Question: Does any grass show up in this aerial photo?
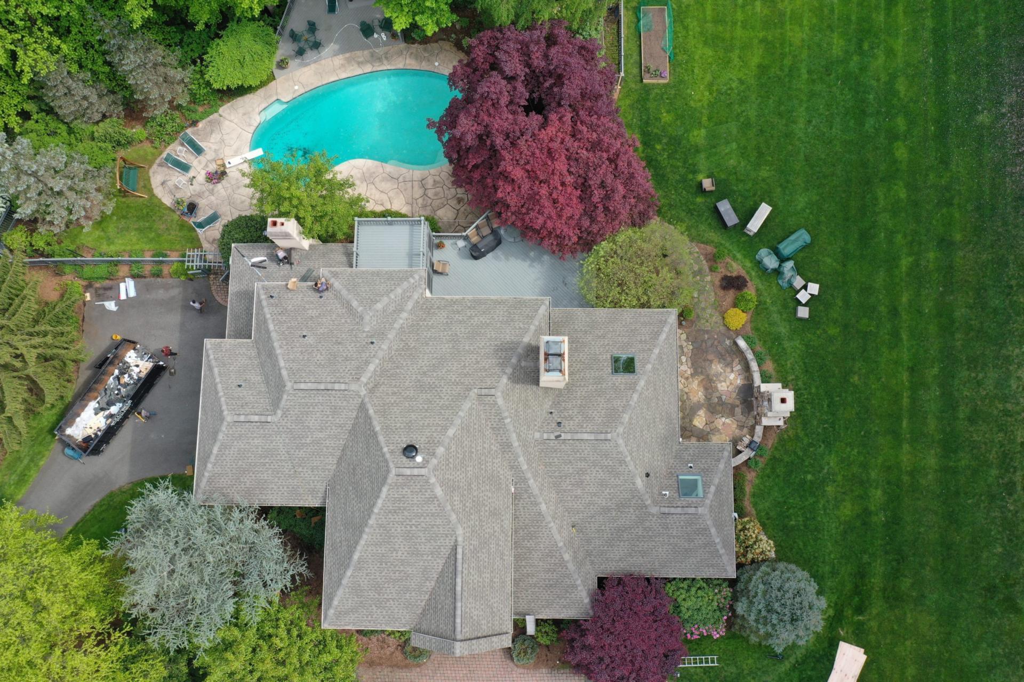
Yes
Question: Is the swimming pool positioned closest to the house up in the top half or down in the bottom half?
top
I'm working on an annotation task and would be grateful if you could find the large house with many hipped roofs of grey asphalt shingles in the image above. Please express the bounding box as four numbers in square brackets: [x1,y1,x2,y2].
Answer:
[191,216,740,657]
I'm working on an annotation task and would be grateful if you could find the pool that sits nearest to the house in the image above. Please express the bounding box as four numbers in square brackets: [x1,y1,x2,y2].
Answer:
[251,70,454,176]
